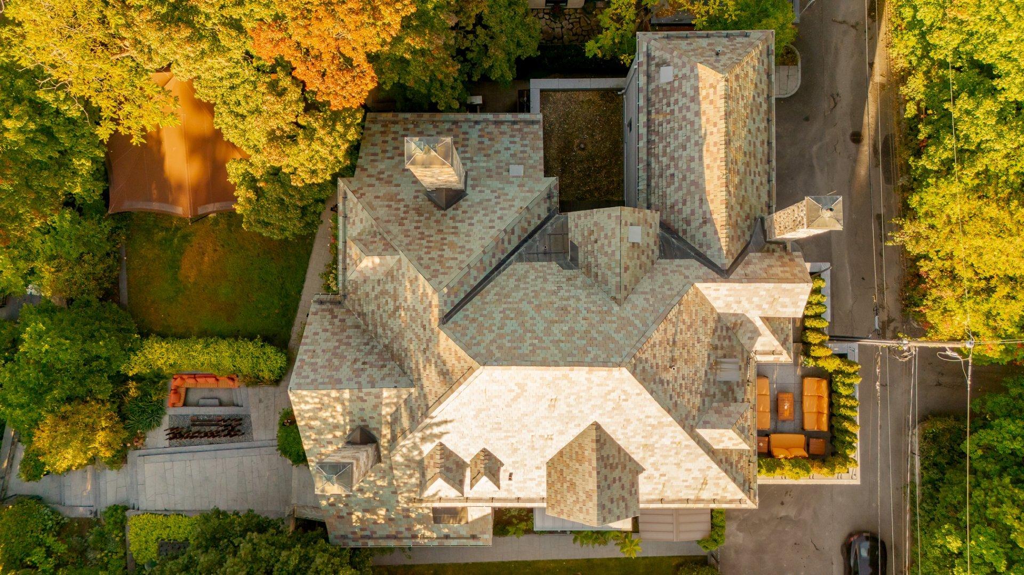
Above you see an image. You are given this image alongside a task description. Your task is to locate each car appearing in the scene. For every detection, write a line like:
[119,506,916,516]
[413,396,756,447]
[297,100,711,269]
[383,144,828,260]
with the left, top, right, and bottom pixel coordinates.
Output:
[837,529,887,575]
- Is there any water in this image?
No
